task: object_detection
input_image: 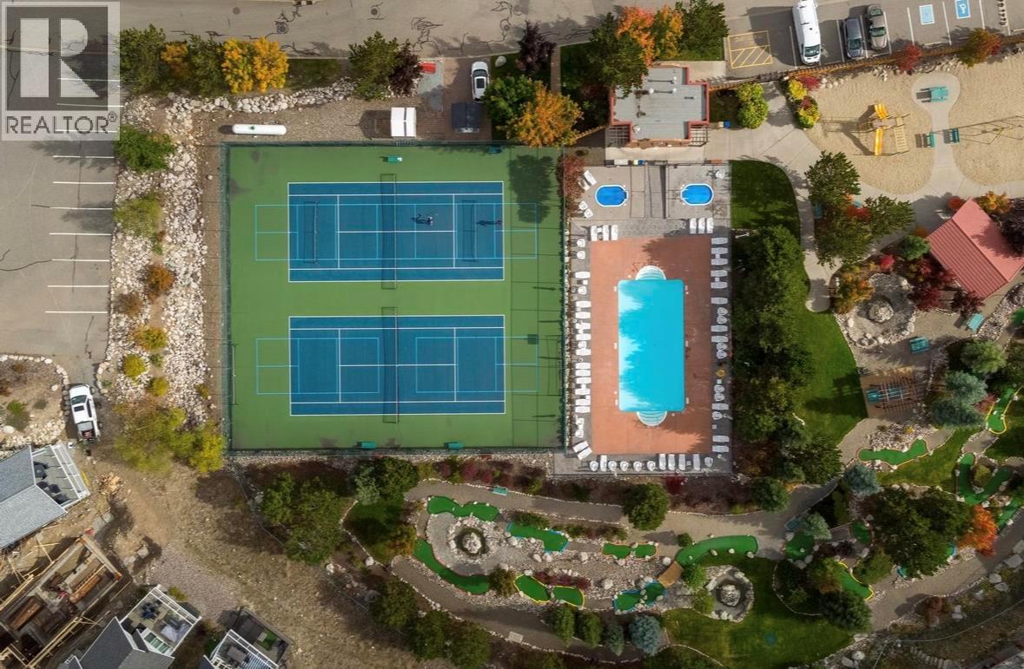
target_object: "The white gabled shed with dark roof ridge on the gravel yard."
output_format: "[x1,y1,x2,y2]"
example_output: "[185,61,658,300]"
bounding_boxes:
[391,105,419,140]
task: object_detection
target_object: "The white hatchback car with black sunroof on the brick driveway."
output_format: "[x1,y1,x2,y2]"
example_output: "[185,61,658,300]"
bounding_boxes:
[468,58,490,102]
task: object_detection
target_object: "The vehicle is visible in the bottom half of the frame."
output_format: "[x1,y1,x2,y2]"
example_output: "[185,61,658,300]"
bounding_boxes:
[65,386,96,441]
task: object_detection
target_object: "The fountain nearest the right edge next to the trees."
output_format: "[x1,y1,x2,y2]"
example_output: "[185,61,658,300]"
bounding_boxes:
[861,290,900,330]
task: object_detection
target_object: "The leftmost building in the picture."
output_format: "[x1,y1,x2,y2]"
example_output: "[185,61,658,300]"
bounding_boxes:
[0,443,92,547]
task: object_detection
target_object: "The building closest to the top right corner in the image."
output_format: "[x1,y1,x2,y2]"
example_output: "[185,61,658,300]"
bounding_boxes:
[925,198,1024,299]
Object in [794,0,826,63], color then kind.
white van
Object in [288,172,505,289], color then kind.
blue tennis court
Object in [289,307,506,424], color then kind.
blue tennis court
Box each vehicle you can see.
[794,0,826,63]
[843,14,869,58]
[468,58,490,102]
[65,386,96,441]
[867,3,892,48]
